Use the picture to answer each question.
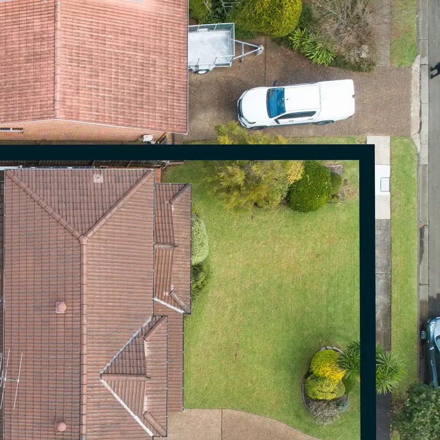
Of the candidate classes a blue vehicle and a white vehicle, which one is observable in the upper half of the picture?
white vehicle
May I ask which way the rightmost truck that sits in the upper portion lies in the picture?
from left to right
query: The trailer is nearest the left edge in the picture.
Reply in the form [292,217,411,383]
[191,21,263,75]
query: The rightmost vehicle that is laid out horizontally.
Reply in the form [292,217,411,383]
[234,81,356,132]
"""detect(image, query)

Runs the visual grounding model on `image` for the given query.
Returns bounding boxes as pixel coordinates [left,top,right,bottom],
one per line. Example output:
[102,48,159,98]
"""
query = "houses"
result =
[0,0,191,141]
[0,166,194,440]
